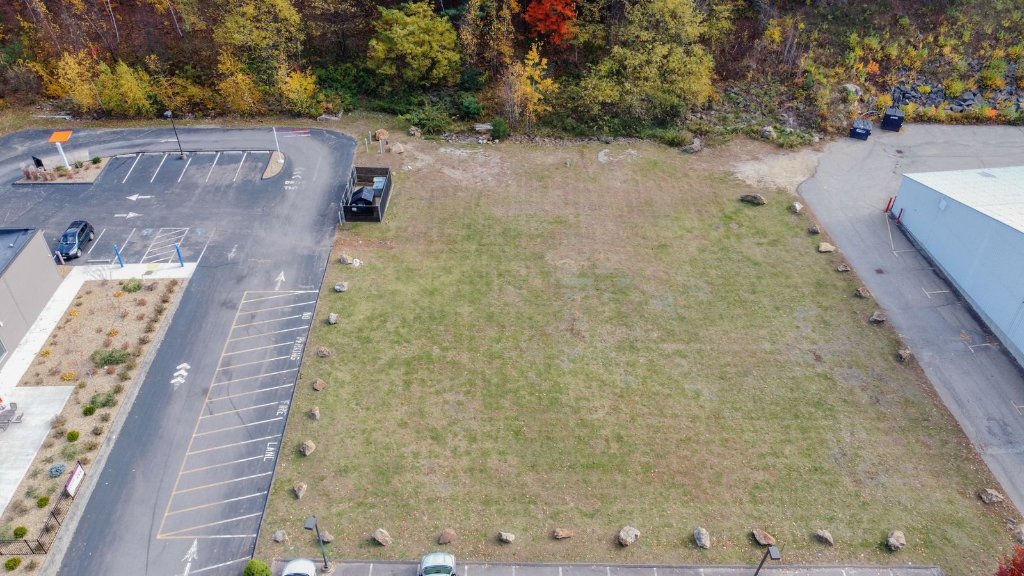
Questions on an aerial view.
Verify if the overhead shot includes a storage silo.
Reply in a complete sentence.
No, there appears to be no storage silo in this shot.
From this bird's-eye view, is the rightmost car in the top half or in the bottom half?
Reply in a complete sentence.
The rightmost car is in the bottom half of the image.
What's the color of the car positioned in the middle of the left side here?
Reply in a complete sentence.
The color of the car positioned in the middle of the left side is blue.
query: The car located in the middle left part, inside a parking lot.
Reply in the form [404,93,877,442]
[56,220,95,259]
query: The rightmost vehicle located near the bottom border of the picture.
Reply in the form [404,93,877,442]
[417,554,455,576]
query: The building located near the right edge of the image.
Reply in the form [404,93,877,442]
[884,169,1024,372]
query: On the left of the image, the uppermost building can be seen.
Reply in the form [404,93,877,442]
[0,225,63,367]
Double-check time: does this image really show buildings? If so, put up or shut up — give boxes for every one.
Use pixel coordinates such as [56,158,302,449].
[884,169,1024,372]
[0,225,63,367]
